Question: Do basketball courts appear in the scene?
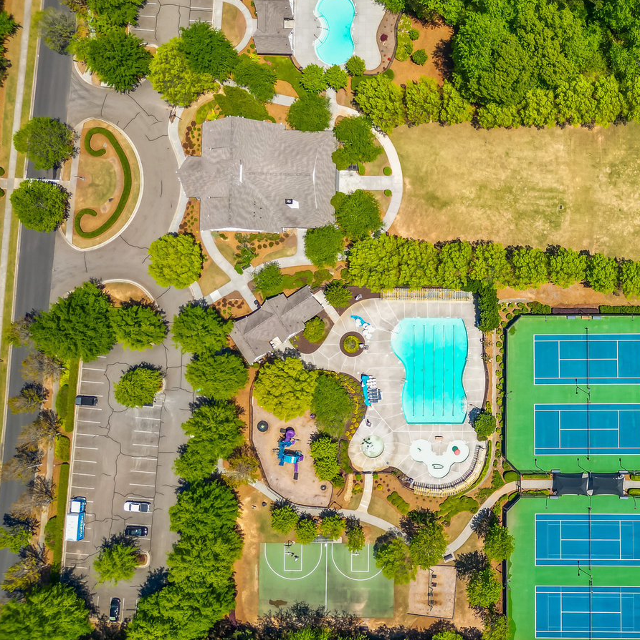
Yes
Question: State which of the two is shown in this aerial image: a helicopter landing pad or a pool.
pool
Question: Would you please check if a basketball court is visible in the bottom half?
Yes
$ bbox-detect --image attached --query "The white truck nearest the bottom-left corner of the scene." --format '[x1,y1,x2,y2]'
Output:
[65,502,86,544]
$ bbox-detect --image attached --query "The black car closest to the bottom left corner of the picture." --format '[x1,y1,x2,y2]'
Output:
[110,597,122,621]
